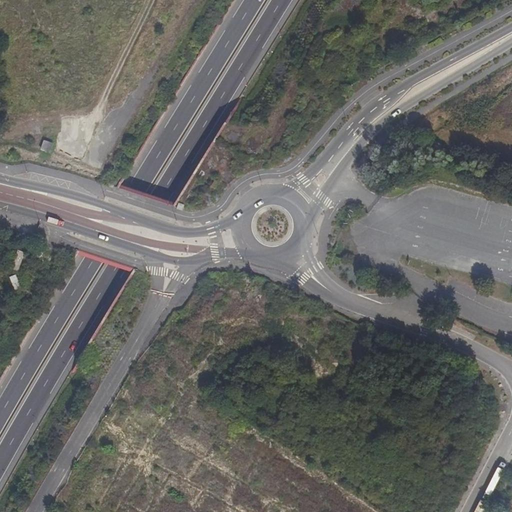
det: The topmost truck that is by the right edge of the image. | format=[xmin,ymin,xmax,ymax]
[484,460,507,496]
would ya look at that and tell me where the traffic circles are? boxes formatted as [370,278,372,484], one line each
[198,154,342,290]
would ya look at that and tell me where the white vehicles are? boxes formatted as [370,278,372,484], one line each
[233,210,244,220]
[46,216,64,226]
[484,460,507,496]
[472,496,487,512]
[98,235,108,242]
[254,199,264,208]
[392,108,402,116]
